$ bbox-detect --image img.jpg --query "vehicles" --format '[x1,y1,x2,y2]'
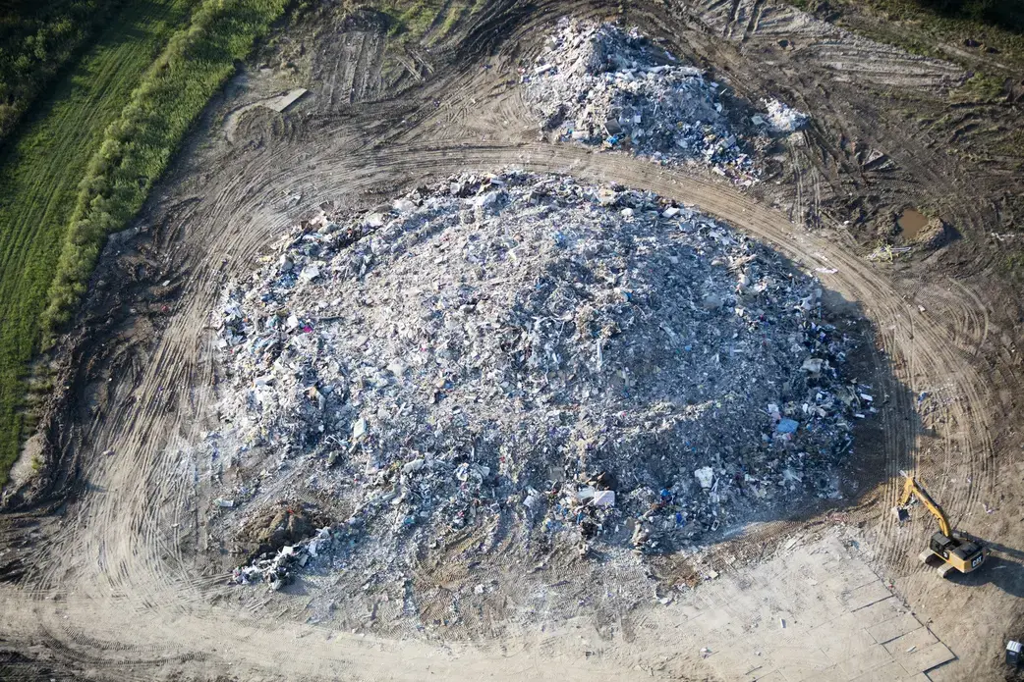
[881,472,987,572]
